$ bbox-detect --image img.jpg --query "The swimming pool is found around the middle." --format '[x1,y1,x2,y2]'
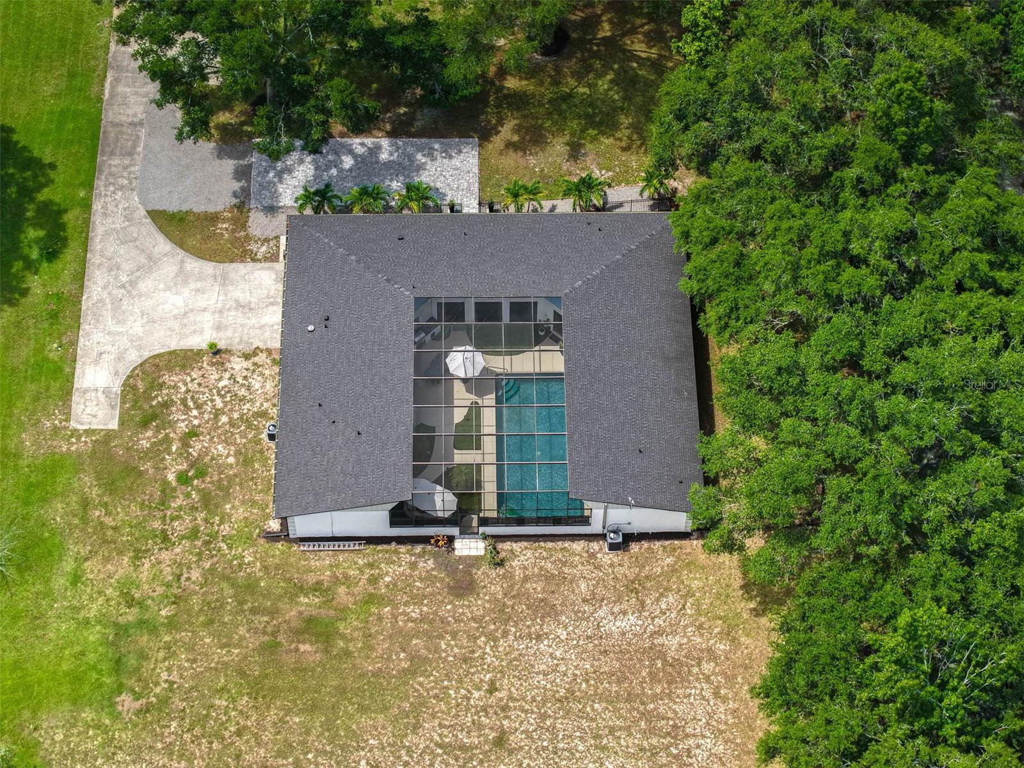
[496,373,584,516]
